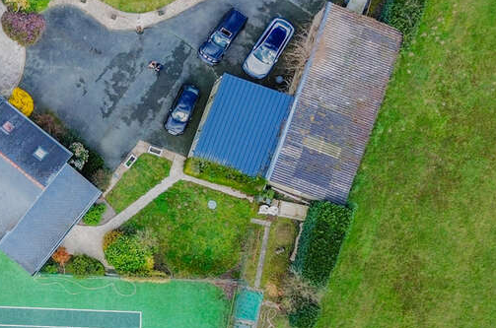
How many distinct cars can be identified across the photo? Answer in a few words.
3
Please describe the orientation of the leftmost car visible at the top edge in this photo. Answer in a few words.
diagonally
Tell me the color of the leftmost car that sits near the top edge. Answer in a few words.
blue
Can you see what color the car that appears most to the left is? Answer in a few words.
blue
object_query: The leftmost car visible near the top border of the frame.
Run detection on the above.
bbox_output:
[195,6,250,68]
